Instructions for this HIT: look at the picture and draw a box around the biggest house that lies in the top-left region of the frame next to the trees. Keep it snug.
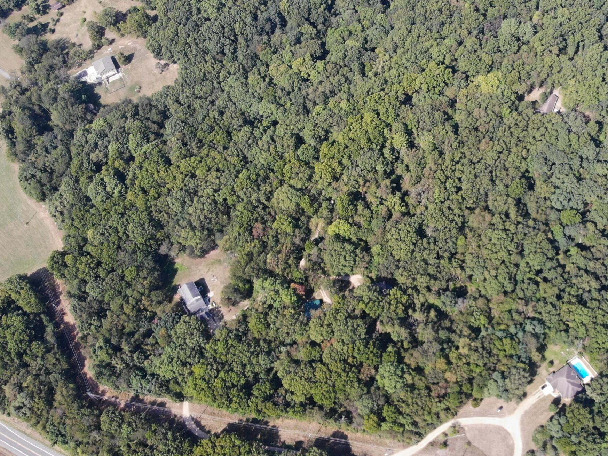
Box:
[92,56,118,81]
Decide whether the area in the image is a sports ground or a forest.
forest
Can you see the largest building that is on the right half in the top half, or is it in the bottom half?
bottom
